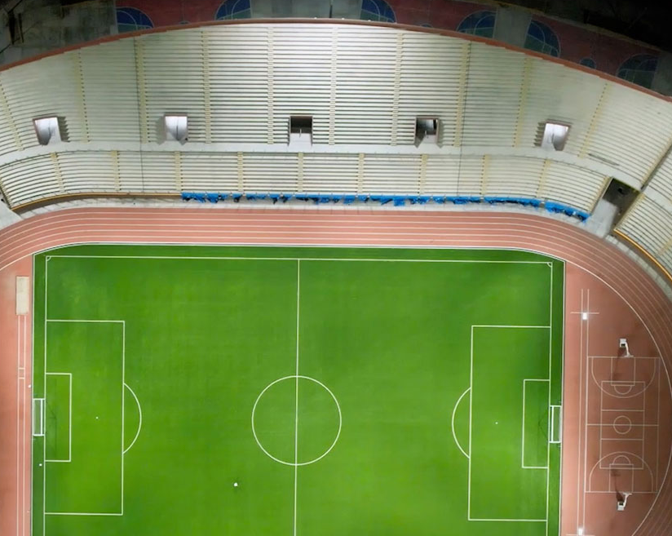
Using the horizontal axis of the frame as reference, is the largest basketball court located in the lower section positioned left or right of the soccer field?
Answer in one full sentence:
Relative to the soccer field, the largest basketball court located in the lower section is on the right.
